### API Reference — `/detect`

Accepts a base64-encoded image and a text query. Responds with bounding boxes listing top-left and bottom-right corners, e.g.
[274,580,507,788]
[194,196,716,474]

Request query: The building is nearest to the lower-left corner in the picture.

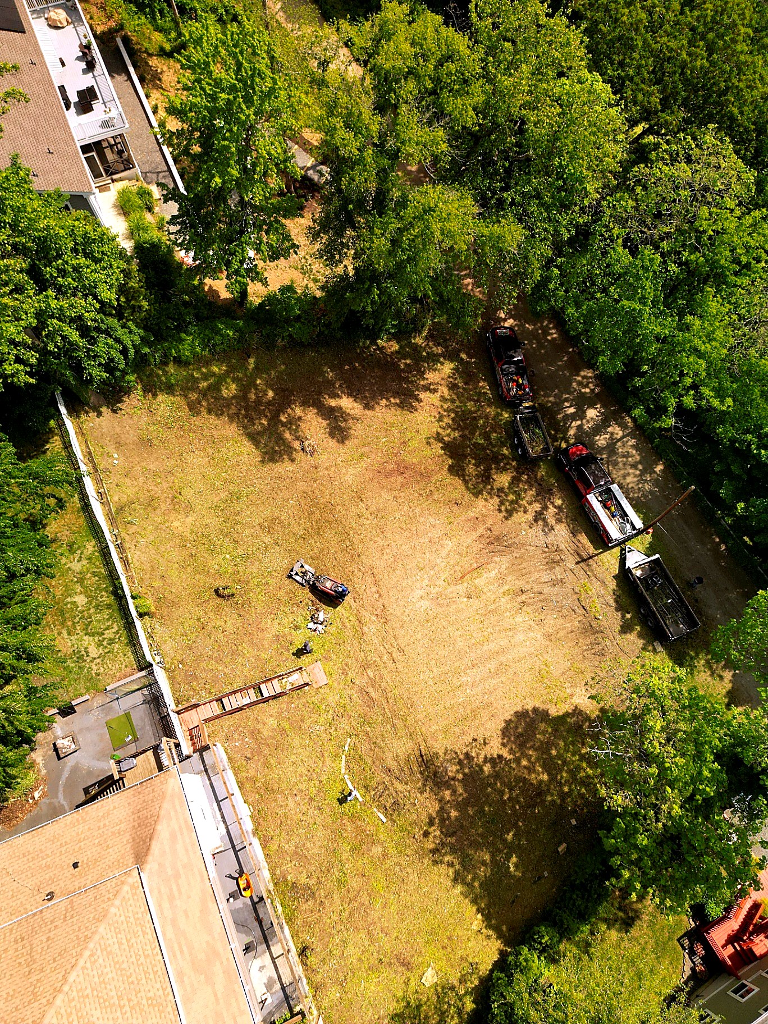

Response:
[0,764,270,1024]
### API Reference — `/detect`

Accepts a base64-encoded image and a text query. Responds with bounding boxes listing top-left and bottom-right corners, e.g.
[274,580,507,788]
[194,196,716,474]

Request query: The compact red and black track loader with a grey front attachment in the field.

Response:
[284,558,352,607]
